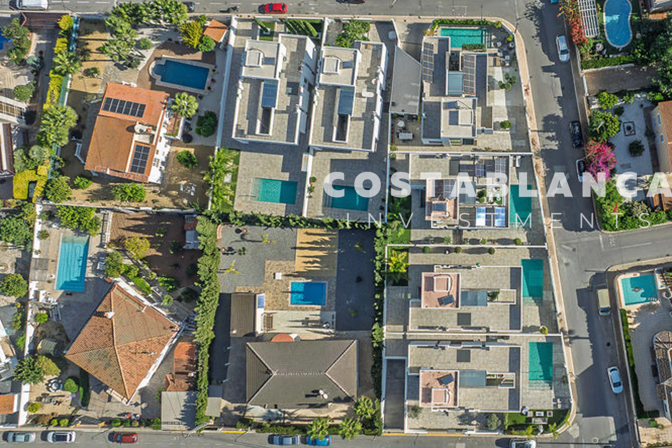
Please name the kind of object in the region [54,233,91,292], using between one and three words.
swimming pool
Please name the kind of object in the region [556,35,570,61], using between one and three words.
car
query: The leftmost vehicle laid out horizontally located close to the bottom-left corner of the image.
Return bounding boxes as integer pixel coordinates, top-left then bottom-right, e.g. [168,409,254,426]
[9,431,34,443]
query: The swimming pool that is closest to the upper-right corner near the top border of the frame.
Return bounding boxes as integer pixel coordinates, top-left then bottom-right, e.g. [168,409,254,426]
[603,0,634,48]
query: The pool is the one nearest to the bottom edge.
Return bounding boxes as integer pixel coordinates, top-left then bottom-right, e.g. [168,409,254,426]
[529,342,553,390]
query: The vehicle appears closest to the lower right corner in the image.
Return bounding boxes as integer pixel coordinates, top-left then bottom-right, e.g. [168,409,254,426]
[607,367,620,391]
